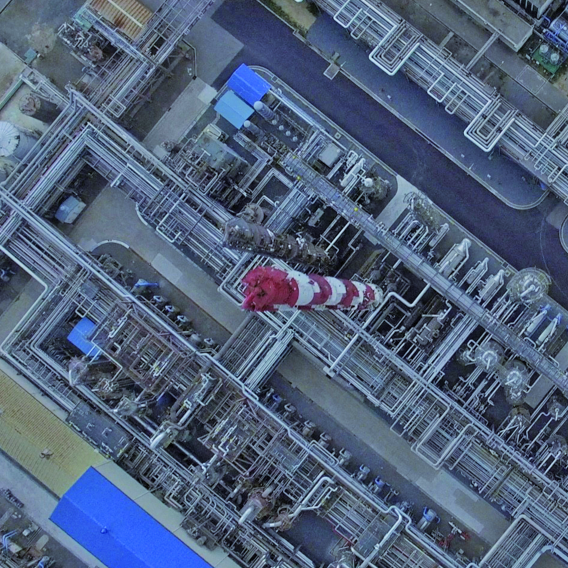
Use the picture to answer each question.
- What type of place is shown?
industrial area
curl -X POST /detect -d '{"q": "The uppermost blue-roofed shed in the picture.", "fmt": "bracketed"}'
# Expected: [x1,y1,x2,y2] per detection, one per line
[227,62,277,108]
